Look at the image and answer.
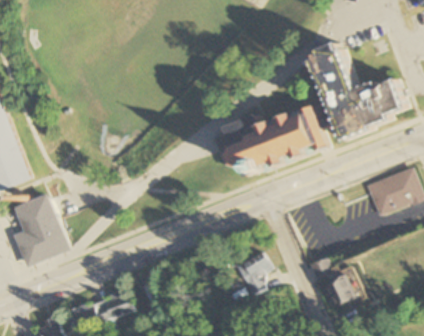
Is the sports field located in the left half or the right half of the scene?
left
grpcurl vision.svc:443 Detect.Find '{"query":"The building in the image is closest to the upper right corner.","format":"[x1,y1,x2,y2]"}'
[304,44,408,140]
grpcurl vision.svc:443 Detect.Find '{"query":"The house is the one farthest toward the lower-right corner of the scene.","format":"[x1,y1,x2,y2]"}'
[333,268,366,304]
